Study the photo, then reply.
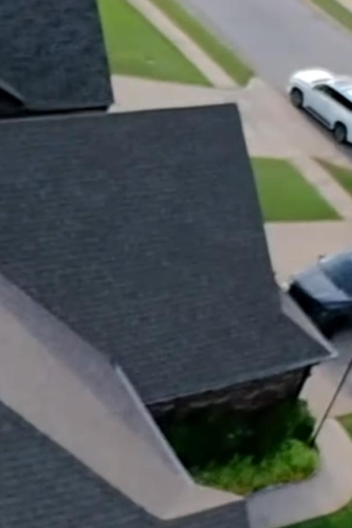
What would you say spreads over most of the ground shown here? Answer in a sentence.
Most of the picture is covered by buildings.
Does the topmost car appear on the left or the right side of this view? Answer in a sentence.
It is on the right.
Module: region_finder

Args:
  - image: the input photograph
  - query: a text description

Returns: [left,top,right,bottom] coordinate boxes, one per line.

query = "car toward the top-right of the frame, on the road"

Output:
[290,77,352,146]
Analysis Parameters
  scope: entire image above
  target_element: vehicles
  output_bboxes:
[290,77,352,146]
[293,255,352,324]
